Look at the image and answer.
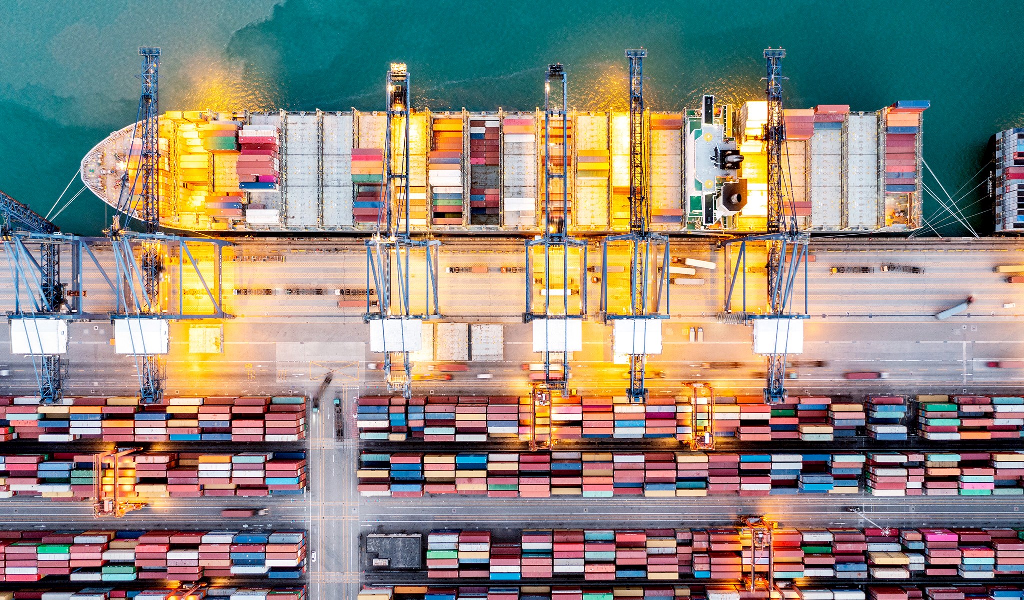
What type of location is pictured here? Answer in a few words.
port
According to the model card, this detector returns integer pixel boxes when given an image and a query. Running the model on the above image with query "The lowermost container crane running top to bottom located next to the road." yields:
[732,509,774,593]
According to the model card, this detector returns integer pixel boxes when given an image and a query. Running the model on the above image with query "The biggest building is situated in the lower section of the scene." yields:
[366,534,423,569]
